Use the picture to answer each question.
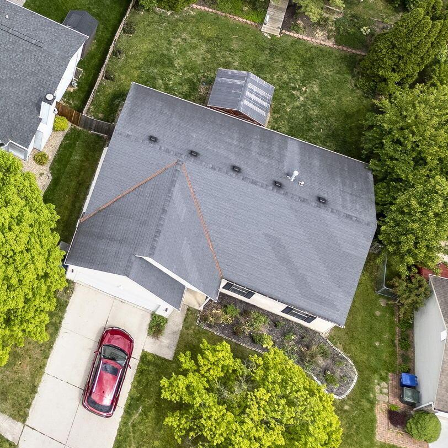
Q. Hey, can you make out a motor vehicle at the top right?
No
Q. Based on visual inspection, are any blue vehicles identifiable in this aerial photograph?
No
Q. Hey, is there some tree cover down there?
Yes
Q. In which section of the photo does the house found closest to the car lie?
center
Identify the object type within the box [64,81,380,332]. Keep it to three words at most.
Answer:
house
